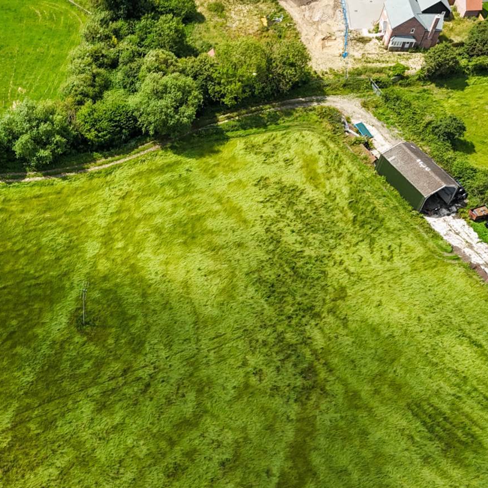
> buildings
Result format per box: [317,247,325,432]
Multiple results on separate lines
[458,0,483,22]
[378,142,463,207]
[384,0,458,52]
